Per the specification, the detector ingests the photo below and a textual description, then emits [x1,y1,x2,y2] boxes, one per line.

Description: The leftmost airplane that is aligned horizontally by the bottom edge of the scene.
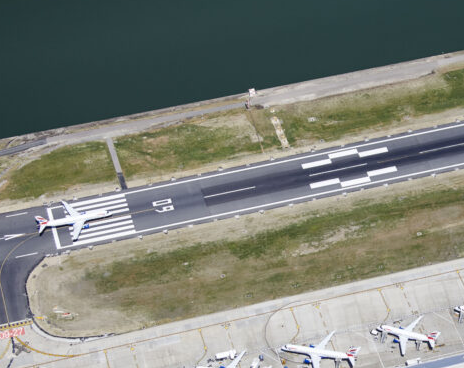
[279,330,361,368]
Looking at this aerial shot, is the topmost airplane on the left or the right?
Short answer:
left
